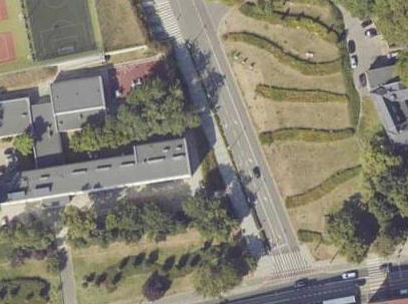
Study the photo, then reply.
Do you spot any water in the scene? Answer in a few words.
No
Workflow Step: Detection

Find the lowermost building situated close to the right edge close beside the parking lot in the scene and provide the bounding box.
[368,82,408,146]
